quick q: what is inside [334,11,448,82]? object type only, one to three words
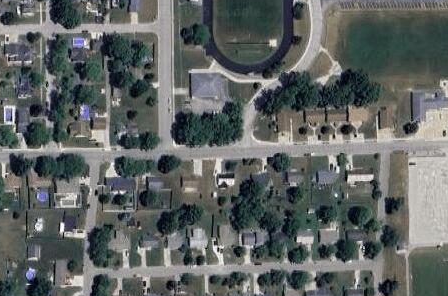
sports field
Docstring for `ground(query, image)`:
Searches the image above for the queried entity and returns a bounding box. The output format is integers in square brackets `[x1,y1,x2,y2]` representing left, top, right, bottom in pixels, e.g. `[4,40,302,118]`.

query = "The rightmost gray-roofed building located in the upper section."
[412,91,448,122]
